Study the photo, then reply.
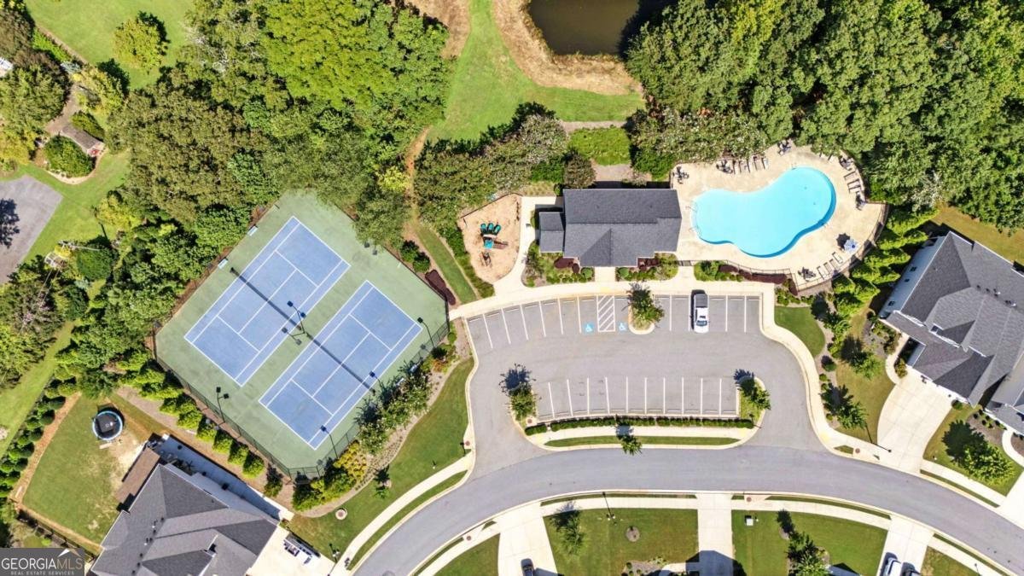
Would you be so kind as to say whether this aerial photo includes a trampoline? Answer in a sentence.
Yes, a trampoline is visible in the scene.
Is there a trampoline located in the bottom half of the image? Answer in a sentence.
Yes, in the bottom half of the image there is a trampoline.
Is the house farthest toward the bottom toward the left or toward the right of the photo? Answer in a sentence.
You can find the house farthest toward the bottom on the left side of the picture.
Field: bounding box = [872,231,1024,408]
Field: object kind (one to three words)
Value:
house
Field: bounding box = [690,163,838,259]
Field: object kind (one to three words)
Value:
swimming pool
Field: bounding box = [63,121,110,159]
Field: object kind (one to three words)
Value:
shed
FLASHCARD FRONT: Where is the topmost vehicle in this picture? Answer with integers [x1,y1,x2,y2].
[692,292,709,332]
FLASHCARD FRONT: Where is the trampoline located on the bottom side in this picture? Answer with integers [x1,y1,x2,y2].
[88,411,124,440]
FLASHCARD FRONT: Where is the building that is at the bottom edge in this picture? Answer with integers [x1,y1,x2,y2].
[90,460,279,576]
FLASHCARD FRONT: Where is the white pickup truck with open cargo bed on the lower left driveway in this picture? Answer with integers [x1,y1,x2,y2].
[281,537,323,568]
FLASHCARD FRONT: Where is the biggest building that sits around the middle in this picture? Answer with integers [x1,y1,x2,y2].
[539,188,682,267]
